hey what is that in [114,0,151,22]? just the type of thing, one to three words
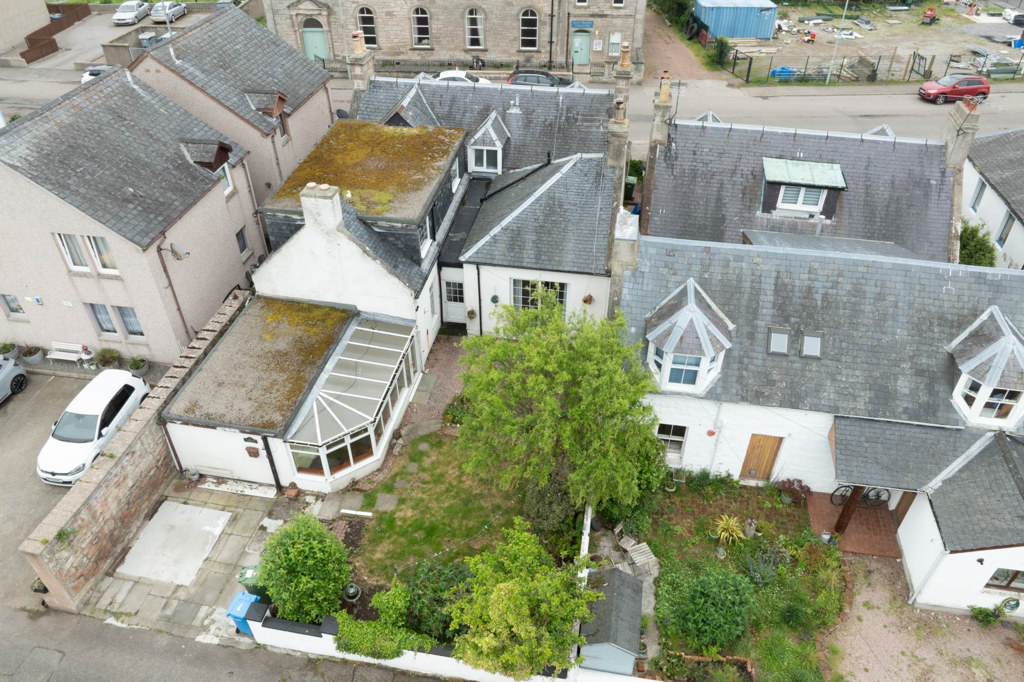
car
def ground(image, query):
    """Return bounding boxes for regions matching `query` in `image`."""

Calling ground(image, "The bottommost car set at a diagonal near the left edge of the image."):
[28,364,154,478]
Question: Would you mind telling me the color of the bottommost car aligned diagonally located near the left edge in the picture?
white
